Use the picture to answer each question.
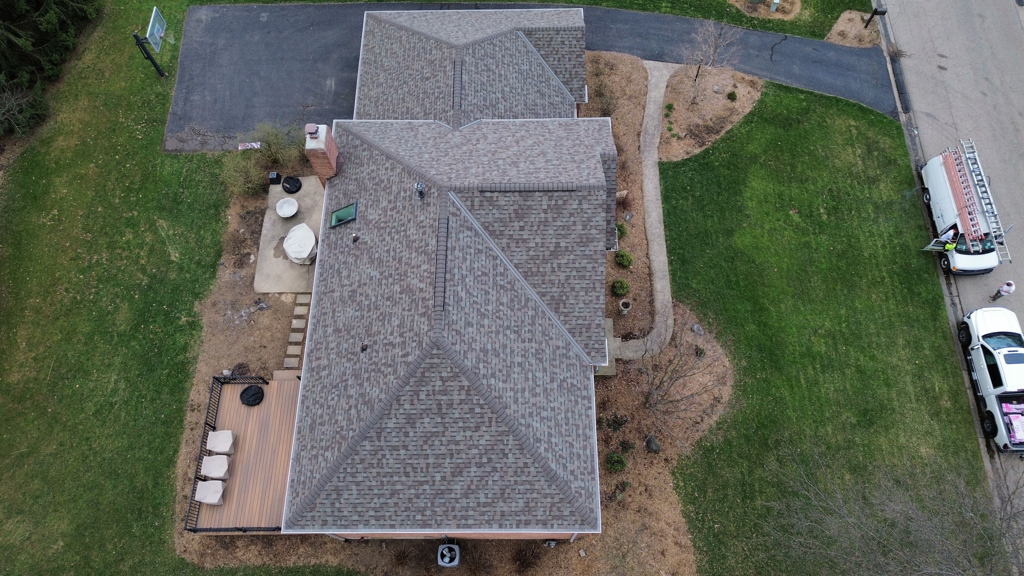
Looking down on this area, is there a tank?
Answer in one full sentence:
No, there isn't any tank down there.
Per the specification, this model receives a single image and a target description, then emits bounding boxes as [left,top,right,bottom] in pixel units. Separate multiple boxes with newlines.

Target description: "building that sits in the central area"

[281,9,618,545]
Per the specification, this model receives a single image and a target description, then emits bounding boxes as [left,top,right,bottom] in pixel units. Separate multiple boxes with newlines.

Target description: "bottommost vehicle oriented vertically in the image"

[957,309,1024,461]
